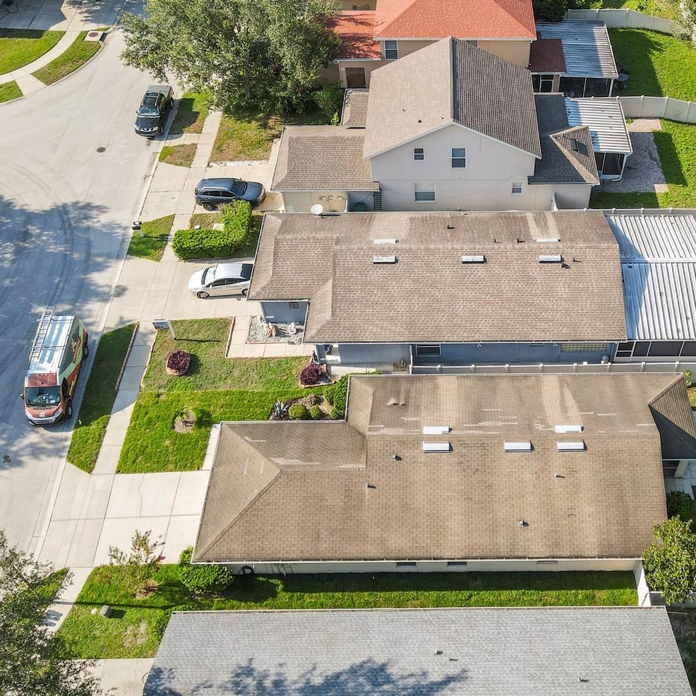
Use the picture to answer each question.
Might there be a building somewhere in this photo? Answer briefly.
Yes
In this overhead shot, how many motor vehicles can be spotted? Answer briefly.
four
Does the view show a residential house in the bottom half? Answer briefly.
Yes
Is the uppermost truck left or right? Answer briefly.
left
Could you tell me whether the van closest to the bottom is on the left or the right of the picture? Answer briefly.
left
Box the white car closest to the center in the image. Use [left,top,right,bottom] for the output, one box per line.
[189,263,251,298]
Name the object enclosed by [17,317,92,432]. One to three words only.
van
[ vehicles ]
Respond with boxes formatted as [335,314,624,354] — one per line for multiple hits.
[131,85,172,140]
[189,263,251,298]
[193,173,270,210]
[17,317,92,432]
